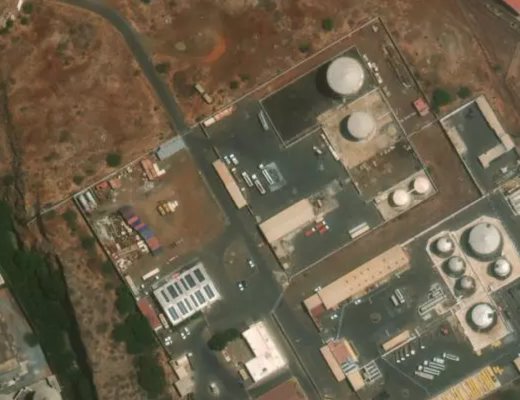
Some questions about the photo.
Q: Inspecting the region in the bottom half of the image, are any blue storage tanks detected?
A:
No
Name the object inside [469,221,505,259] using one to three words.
storage tank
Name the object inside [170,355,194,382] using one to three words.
house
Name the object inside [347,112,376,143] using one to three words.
storage tank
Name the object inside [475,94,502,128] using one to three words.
building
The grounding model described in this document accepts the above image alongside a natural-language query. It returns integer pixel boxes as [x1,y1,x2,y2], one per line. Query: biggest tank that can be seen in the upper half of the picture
[327,57,367,97]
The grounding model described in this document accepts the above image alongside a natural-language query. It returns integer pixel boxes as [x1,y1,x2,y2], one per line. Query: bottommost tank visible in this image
[468,303,498,332]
